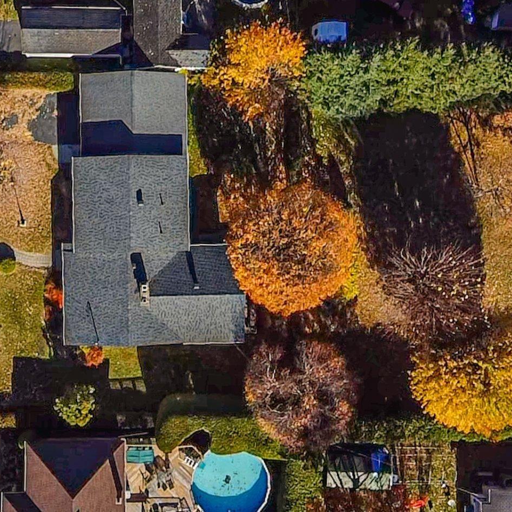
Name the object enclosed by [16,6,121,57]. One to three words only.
building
